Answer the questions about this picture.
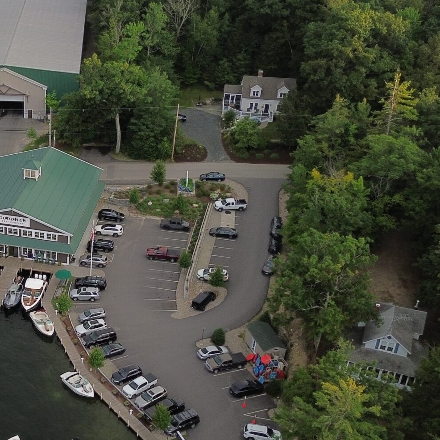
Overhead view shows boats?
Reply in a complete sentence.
Yes, there is a boat in the image.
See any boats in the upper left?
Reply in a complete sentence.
No, I see no boat in the upper left.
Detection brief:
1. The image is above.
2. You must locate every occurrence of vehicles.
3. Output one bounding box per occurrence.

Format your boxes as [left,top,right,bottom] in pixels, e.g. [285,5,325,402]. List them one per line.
[145,246,181,261]
[95,343,131,362]
[209,228,239,239]
[162,409,204,438]
[242,422,284,440]
[190,291,219,309]
[159,218,193,232]
[75,305,109,323]
[199,173,226,182]
[97,209,125,222]
[85,237,116,251]
[80,326,118,350]
[118,372,162,400]
[194,344,231,361]
[74,316,108,336]
[203,352,249,373]
[95,223,123,237]
[79,254,108,268]
[74,274,107,290]
[261,255,279,276]
[69,286,101,302]
[267,232,281,254]
[213,198,248,211]
[227,381,265,399]
[132,385,170,410]
[108,362,145,385]
[197,267,229,281]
